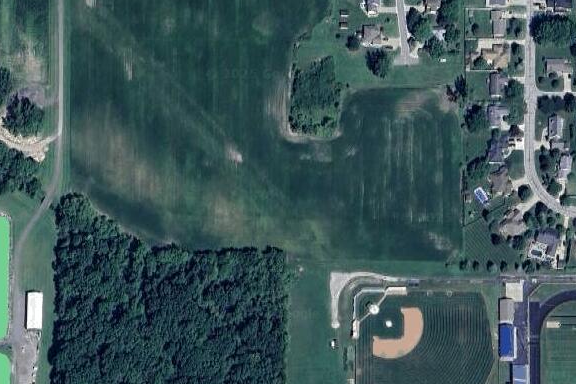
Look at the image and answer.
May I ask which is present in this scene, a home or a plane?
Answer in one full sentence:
I can see a home in this picture.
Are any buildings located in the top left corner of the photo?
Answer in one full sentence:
No, there is no building in the top left corner of the photo.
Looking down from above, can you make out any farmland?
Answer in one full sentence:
Yes, the picture does contain farmland.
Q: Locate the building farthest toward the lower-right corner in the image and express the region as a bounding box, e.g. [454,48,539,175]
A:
[499,322,514,357]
